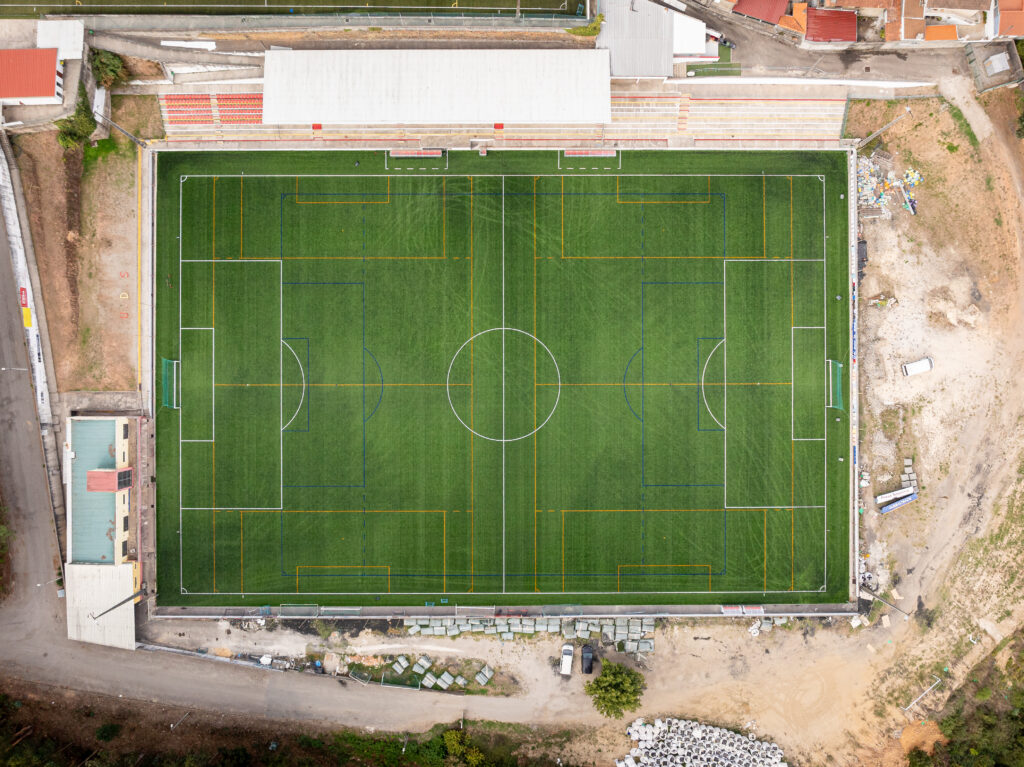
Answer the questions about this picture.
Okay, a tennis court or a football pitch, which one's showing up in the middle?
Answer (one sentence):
Looking in the middle, you will find a football pitch.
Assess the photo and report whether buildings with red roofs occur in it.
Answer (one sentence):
Yes, this view includes a building with a red roof.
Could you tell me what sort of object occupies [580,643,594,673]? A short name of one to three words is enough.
car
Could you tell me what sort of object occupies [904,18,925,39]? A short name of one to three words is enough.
house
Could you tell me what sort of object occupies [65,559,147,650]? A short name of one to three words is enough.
shed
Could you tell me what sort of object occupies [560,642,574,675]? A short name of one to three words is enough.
vehicle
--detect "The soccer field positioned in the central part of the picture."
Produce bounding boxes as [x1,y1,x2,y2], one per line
[157,151,850,607]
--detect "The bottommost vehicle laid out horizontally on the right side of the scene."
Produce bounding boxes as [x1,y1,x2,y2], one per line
[900,358,932,376]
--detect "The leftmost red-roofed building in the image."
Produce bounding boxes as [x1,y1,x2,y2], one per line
[0,48,68,104]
